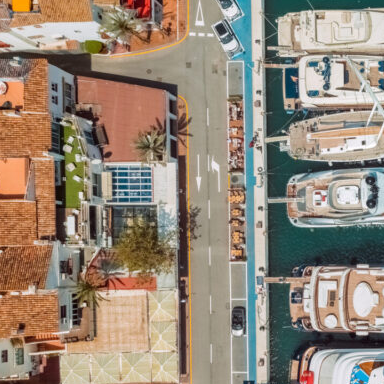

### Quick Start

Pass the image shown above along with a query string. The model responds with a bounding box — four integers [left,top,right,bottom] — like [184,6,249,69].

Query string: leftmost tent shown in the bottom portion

[60,352,91,384]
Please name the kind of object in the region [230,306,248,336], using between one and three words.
car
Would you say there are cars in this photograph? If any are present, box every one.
[214,21,243,59]
[218,0,243,23]
[230,306,248,336]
